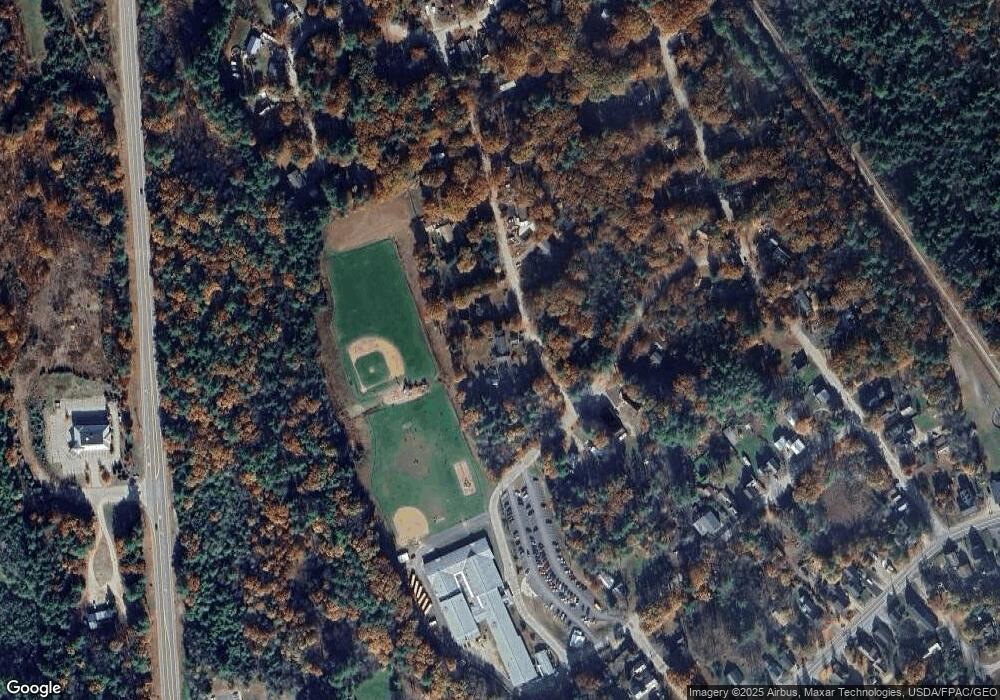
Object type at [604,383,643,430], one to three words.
building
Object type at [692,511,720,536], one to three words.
house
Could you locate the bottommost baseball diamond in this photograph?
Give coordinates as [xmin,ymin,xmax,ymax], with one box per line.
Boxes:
[367,381,487,551]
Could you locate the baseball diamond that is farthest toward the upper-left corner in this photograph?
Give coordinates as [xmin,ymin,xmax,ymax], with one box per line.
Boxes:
[329,238,437,402]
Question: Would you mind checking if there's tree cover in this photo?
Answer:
Yes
